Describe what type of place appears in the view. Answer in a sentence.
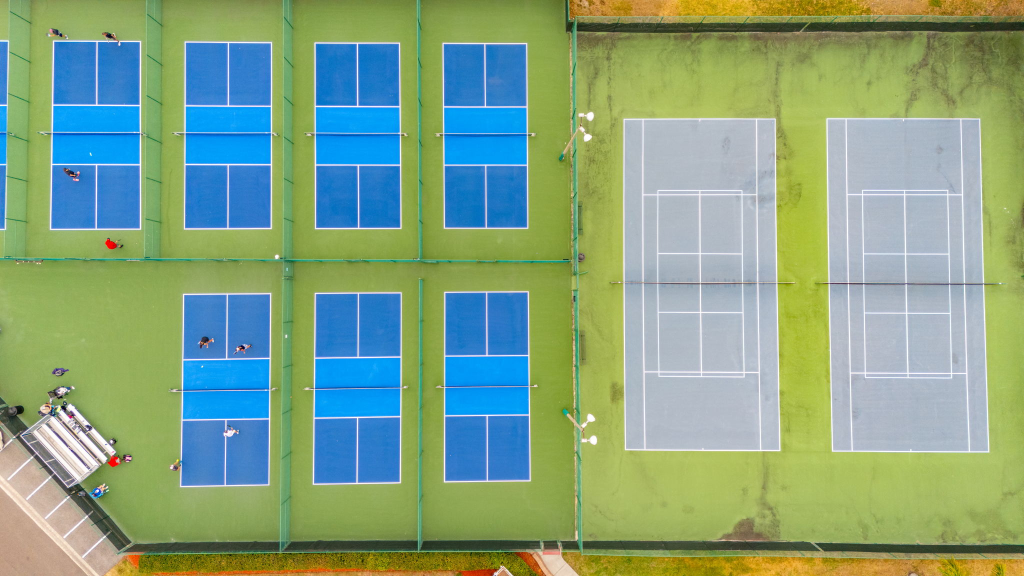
This looks like a sports ground.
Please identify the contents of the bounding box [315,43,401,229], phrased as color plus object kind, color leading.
blue sports court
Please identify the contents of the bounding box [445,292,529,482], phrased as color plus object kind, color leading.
blue sports court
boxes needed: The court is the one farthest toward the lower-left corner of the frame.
[181,294,271,486]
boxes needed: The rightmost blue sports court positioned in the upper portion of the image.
[443,43,528,229]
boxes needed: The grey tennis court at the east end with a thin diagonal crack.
[827,118,989,452]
